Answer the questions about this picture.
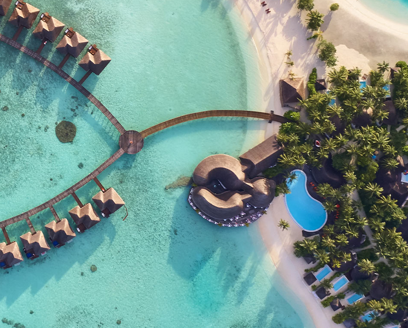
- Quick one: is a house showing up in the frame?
Yes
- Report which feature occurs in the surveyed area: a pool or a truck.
pool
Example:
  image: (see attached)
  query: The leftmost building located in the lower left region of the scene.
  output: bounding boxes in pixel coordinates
[0,227,23,269]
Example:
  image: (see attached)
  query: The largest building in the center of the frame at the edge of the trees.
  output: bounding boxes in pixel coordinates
[187,154,275,227]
